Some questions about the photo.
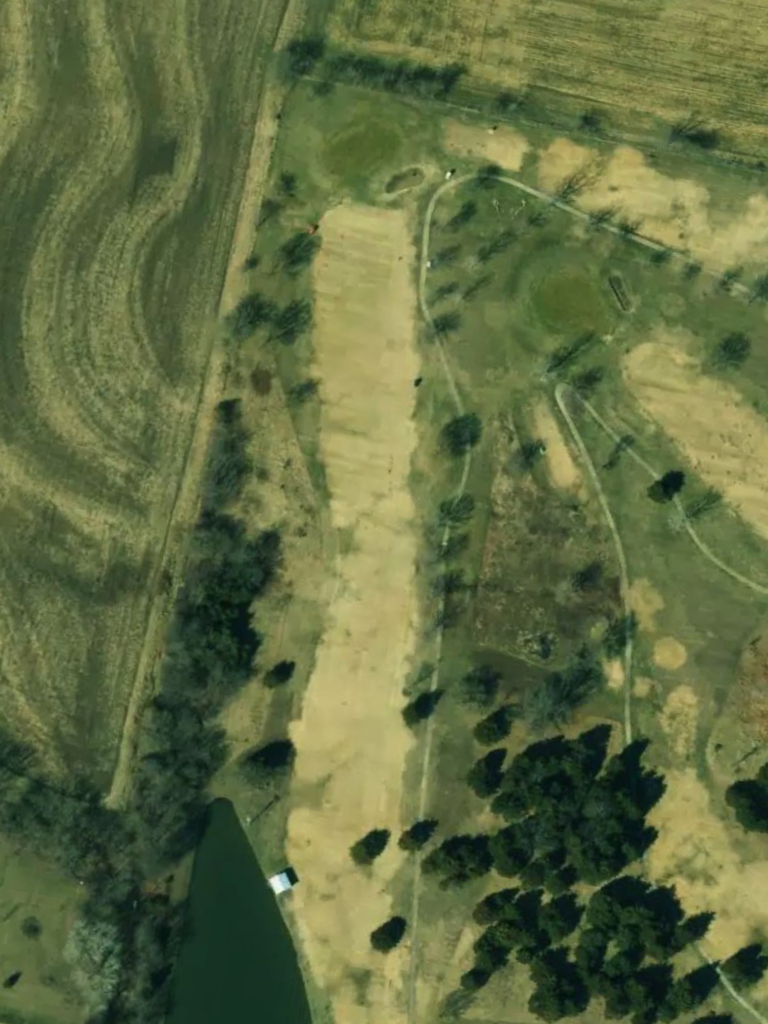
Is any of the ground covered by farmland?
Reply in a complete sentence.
Yes, the picture does contain farmland.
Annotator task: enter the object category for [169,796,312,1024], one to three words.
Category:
pond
